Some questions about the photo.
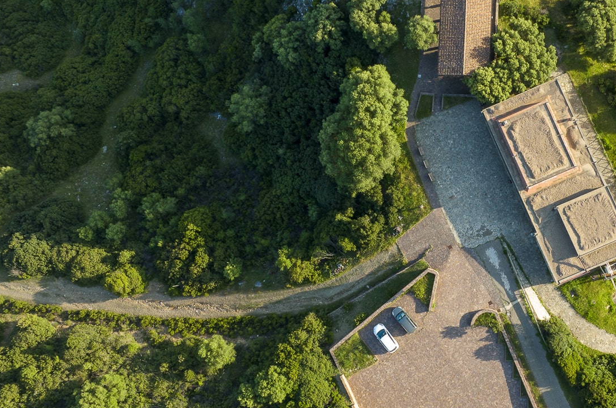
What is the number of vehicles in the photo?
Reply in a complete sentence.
In total, there are 2 vehicles in the scene.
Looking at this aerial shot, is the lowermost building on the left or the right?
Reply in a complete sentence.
It is on the right.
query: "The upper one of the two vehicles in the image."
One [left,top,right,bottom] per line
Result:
[393,304,418,337]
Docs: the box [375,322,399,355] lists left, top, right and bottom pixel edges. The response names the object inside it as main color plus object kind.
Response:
white car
